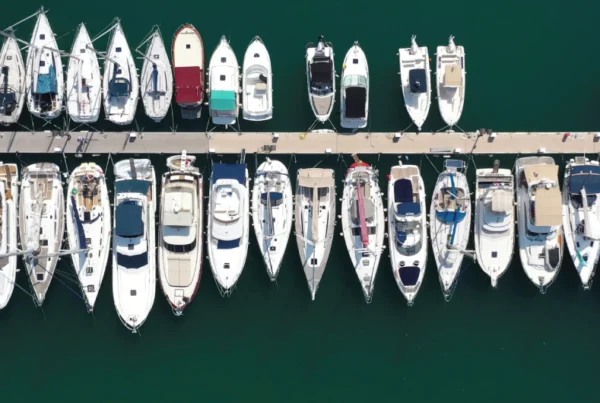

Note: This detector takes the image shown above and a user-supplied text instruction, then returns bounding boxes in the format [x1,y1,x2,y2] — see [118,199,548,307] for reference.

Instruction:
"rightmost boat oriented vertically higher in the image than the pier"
[434,34,467,127]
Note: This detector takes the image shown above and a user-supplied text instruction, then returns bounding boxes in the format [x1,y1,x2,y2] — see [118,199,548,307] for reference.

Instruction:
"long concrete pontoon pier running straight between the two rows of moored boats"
[0,132,600,153]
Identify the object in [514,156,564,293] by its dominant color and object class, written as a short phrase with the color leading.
white boat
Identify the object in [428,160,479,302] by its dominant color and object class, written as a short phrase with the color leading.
white boat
